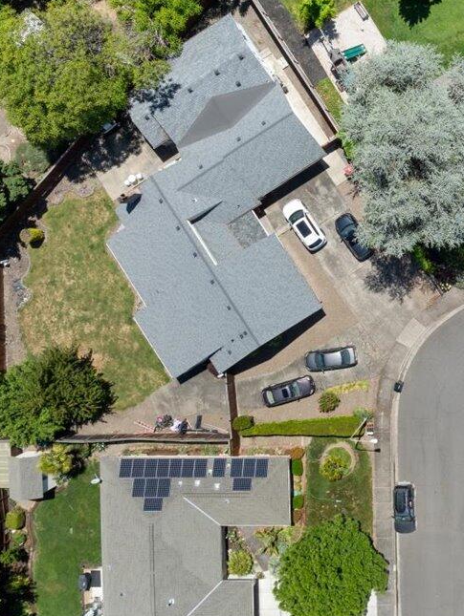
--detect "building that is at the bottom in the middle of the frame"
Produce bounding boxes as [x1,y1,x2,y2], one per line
[100,454,299,616]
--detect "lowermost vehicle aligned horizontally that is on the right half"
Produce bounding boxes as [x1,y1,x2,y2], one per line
[258,377,316,409]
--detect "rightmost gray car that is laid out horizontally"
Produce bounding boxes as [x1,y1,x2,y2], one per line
[303,346,358,374]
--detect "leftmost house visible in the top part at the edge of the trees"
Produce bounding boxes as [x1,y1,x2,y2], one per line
[105,13,327,377]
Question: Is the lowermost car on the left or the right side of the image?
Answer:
right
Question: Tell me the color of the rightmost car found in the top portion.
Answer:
black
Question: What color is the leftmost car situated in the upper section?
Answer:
white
